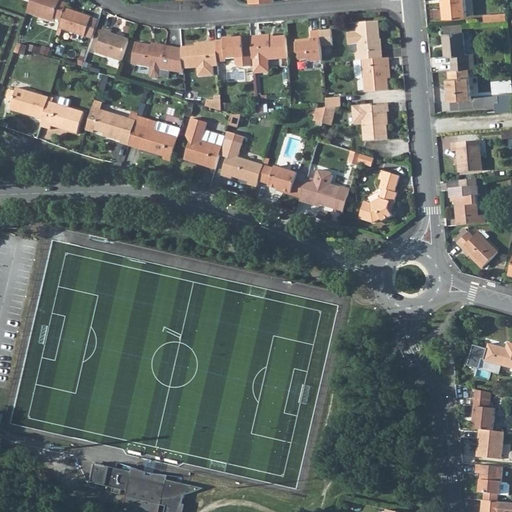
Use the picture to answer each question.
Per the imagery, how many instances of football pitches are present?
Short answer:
1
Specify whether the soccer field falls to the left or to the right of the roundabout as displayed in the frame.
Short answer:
to the left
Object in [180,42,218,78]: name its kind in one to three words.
house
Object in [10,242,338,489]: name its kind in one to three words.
soccer field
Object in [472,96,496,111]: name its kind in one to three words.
shed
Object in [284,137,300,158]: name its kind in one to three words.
swimming pool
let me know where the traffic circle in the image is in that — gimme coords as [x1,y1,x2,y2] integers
[376,244,444,312]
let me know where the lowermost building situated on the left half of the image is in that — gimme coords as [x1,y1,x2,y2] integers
[90,464,204,512]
